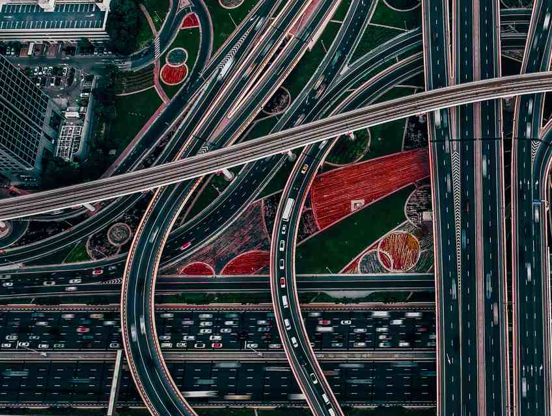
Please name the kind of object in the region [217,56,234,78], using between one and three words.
vehicle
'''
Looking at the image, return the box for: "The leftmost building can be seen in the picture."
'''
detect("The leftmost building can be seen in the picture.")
[0,58,55,175]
